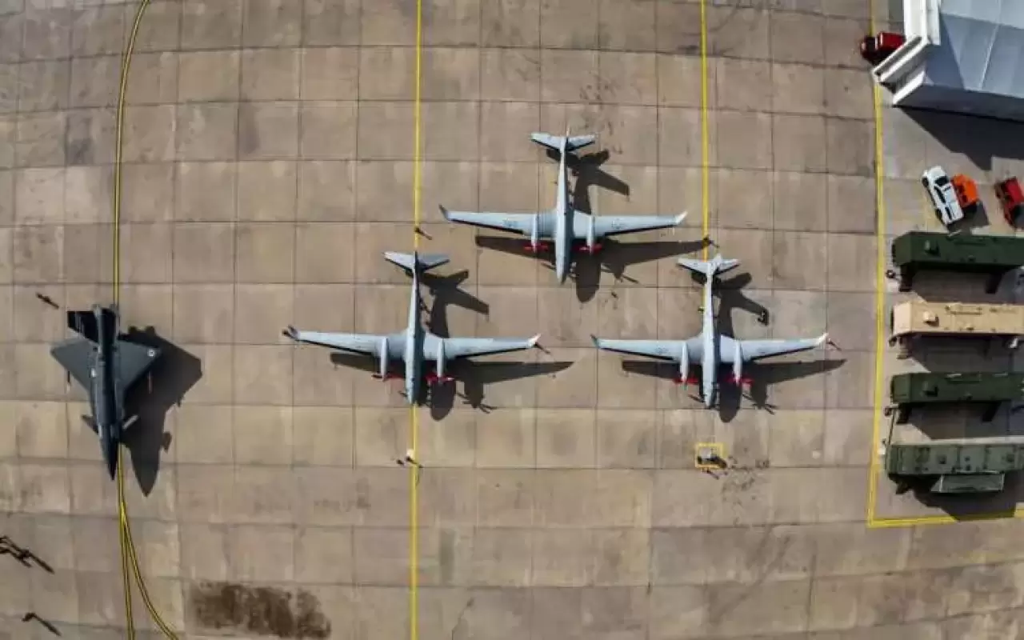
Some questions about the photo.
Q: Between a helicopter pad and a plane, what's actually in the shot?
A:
plane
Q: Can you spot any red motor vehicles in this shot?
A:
Yes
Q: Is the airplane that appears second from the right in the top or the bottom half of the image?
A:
top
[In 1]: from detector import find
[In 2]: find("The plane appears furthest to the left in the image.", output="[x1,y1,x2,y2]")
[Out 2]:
[54,304,163,478]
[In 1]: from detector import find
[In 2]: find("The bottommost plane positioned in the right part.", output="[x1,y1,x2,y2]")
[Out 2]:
[595,260,829,404]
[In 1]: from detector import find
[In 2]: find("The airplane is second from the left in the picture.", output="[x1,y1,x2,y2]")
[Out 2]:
[289,254,535,405]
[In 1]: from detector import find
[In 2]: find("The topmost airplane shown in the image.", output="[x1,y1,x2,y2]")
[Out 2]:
[442,128,688,283]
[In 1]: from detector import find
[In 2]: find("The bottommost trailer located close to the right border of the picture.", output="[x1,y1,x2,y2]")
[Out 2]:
[880,437,1024,491]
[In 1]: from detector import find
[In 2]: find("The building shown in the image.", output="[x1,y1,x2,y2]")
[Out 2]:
[875,0,1024,120]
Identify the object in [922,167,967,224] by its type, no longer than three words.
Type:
truck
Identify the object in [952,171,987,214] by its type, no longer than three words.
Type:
car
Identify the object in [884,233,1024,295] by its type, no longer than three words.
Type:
trailer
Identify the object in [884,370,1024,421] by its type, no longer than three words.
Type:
trailer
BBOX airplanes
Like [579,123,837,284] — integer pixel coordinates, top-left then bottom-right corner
[595,260,829,404]
[54,304,163,478]
[442,128,688,283]
[289,254,535,405]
